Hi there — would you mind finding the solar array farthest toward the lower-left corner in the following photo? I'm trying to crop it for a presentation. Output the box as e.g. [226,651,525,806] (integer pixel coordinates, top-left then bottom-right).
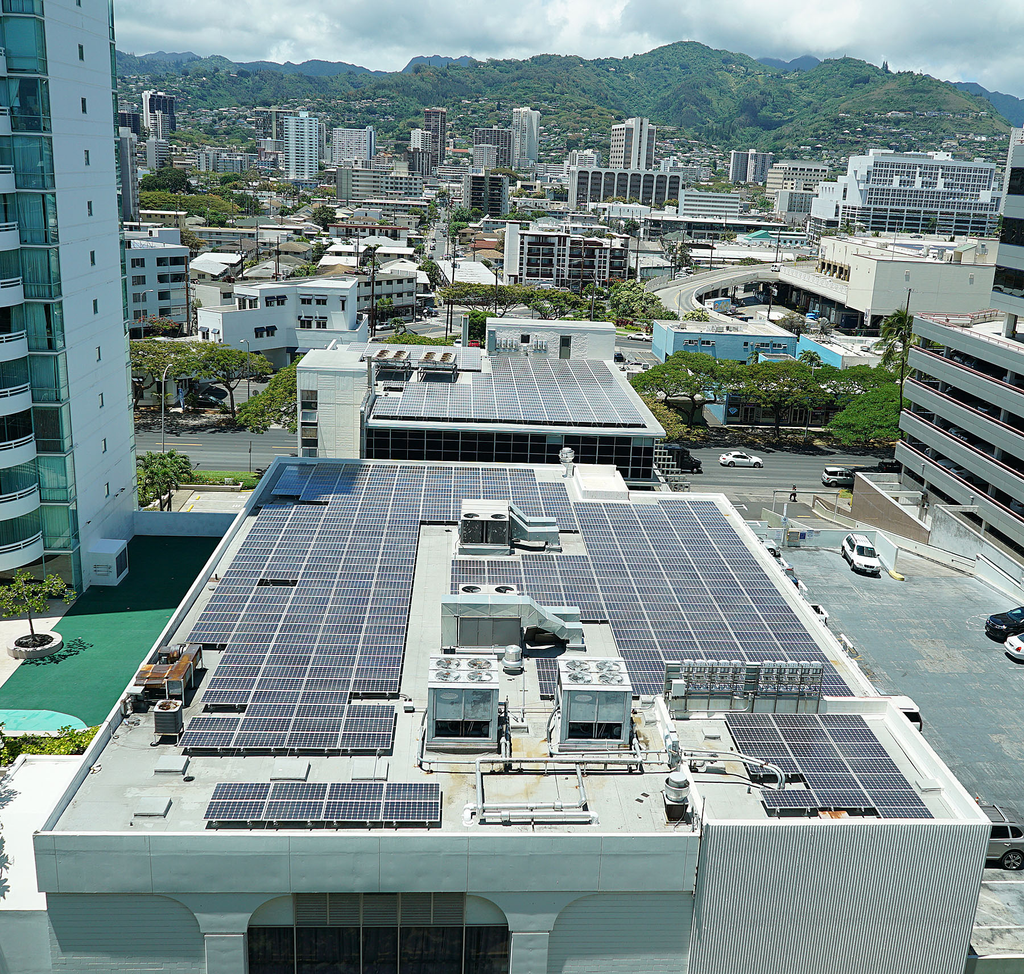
[203,783,442,834]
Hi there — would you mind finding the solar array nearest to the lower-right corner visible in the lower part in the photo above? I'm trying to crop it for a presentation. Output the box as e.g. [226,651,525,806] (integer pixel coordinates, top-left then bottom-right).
[723,714,938,815]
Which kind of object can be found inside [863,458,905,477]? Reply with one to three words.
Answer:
vehicle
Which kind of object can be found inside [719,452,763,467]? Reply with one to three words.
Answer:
car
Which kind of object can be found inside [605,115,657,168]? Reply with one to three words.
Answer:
building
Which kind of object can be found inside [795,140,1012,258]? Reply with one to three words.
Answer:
building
